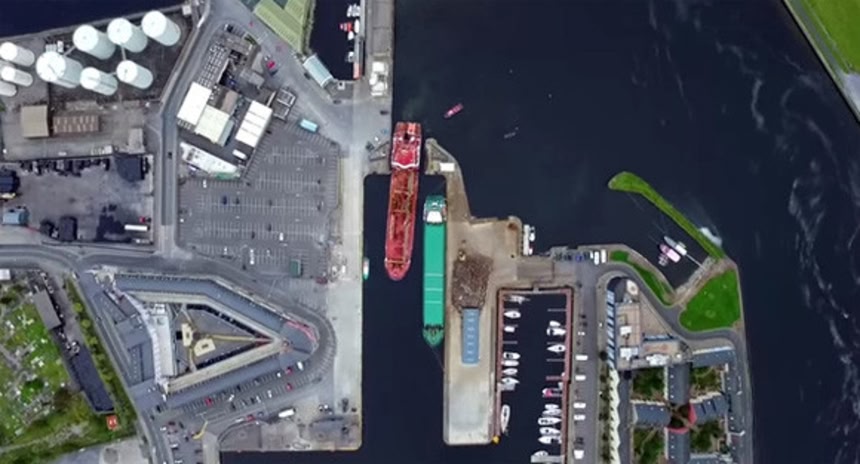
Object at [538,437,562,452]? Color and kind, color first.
white boat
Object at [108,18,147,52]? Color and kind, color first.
white storage tank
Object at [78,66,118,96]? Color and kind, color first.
white storage tank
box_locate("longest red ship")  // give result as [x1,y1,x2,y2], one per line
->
[385,121,422,281]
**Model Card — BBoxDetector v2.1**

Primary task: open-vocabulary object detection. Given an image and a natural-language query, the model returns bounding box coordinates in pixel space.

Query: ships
[422,195,447,348]
[385,121,422,281]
